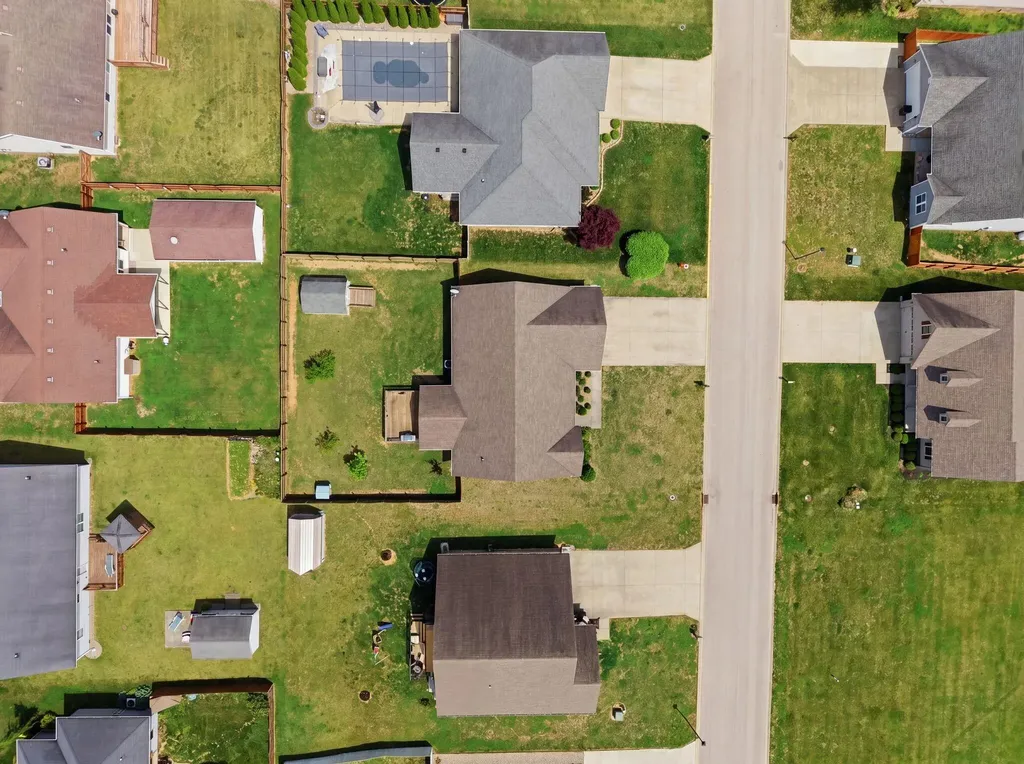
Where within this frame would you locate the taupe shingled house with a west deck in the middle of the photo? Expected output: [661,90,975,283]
[418,282,607,482]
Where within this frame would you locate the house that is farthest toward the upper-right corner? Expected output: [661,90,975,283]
[905,30,1024,229]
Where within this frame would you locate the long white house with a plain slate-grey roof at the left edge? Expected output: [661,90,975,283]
[0,462,96,677]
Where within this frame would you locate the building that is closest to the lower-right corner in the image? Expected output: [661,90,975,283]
[894,290,1024,482]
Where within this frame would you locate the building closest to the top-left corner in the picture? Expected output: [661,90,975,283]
[0,0,122,147]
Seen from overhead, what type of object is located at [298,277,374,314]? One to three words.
shed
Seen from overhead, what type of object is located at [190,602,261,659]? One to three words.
shed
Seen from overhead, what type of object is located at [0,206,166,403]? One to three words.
house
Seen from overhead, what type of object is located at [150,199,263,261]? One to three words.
building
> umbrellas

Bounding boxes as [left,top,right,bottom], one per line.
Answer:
[369,102,382,119]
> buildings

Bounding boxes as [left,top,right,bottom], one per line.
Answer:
[433,550,601,718]
[409,28,611,229]
[15,708,157,764]
[298,277,374,314]
[894,290,1024,482]
[0,0,122,147]
[905,30,1024,229]
[190,602,261,659]
[0,462,96,677]
[150,199,263,261]
[0,206,166,403]
[418,282,607,482]
[289,516,325,575]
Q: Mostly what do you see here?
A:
grass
